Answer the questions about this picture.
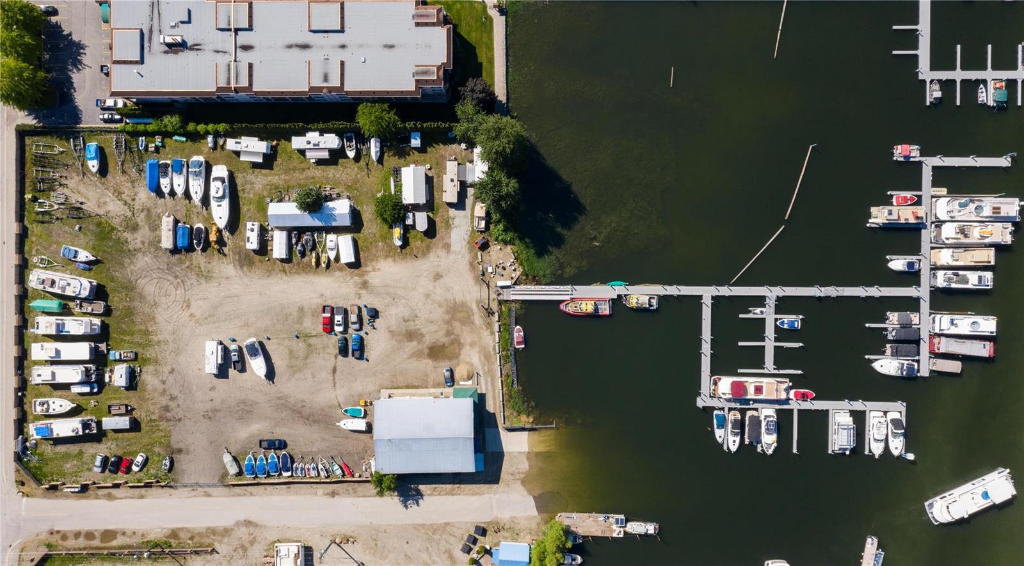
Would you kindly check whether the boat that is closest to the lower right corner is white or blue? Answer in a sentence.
In this view, the boat that is closest to the lower right corner is white.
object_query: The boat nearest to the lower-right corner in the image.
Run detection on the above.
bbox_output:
[922,468,1018,521]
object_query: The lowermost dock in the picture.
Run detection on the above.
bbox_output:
[696,390,909,459]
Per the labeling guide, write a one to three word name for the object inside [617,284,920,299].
pier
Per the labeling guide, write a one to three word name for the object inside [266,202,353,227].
shed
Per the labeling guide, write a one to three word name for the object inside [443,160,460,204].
trailer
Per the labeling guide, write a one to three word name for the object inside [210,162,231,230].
boat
